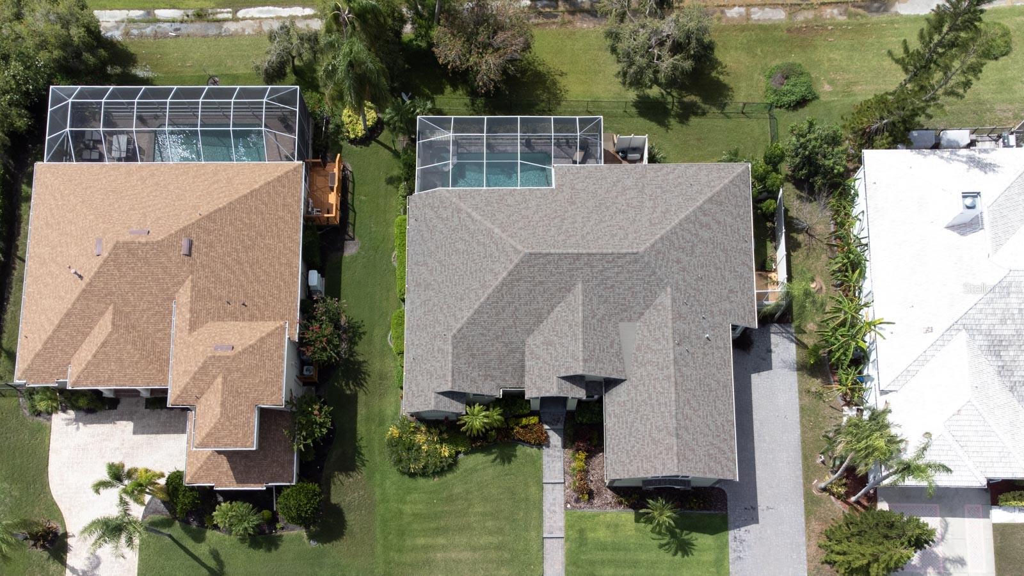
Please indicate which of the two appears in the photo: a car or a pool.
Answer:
pool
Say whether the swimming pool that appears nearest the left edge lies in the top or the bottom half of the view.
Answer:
top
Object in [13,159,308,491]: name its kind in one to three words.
house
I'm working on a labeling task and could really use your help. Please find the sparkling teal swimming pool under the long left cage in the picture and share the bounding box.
[148,120,267,161]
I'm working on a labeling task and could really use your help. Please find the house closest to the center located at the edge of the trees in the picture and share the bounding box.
[400,162,761,489]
